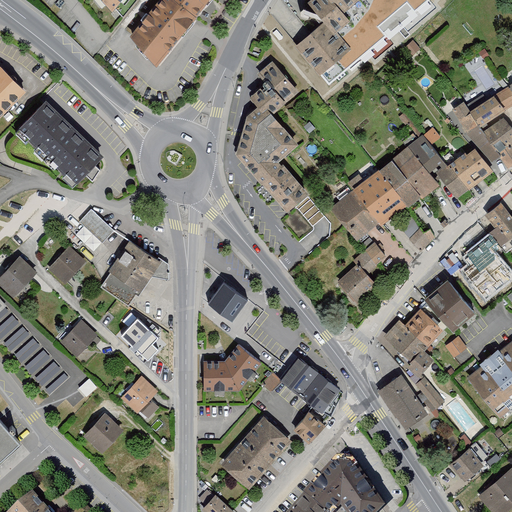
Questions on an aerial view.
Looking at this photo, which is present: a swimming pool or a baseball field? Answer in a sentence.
There is a swimming pool in the scene.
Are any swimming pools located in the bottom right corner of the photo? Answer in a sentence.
Yes, looking in the bottom right corner of the photo, one can make out a swimming pool.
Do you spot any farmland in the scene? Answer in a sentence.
No, the picture contains no farmland.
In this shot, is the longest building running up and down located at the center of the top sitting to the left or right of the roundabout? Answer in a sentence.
Compared with the roundabout, the longest building running up and down located at the center of the top is located further to the right.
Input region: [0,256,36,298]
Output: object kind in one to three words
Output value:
house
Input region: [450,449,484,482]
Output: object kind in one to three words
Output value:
house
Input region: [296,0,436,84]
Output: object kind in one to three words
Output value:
building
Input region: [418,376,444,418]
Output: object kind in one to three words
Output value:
shed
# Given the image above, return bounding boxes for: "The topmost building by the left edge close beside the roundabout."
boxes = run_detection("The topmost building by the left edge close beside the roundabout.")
[14,101,103,188]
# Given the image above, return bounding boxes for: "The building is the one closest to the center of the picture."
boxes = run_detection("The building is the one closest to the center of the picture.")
[208,283,247,322]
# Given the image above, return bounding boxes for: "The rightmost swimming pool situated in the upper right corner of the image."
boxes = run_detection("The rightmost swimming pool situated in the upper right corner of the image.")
[474,64,496,90]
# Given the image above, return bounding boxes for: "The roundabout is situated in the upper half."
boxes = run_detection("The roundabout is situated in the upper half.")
[138,116,220,208]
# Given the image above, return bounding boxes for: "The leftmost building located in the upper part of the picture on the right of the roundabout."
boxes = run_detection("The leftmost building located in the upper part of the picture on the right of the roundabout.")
[236,61,308,212]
